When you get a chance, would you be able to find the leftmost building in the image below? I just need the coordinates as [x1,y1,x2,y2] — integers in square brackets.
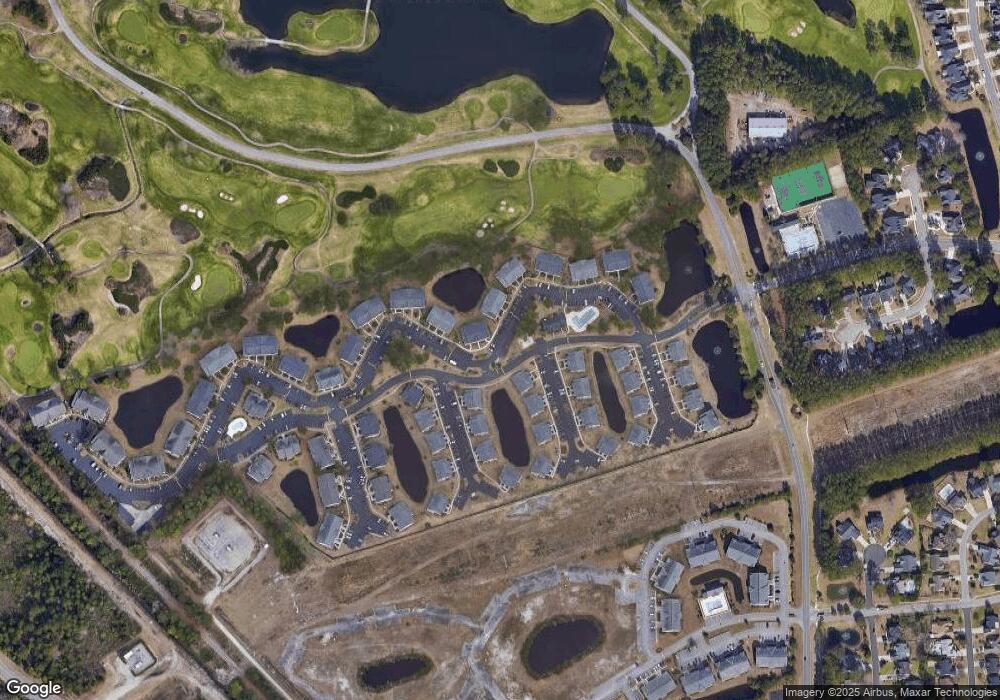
[30,397,66,431]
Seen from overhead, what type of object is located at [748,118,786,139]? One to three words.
barn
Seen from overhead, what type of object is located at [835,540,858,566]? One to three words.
house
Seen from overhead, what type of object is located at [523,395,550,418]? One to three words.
building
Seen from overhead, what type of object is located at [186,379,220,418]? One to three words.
building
